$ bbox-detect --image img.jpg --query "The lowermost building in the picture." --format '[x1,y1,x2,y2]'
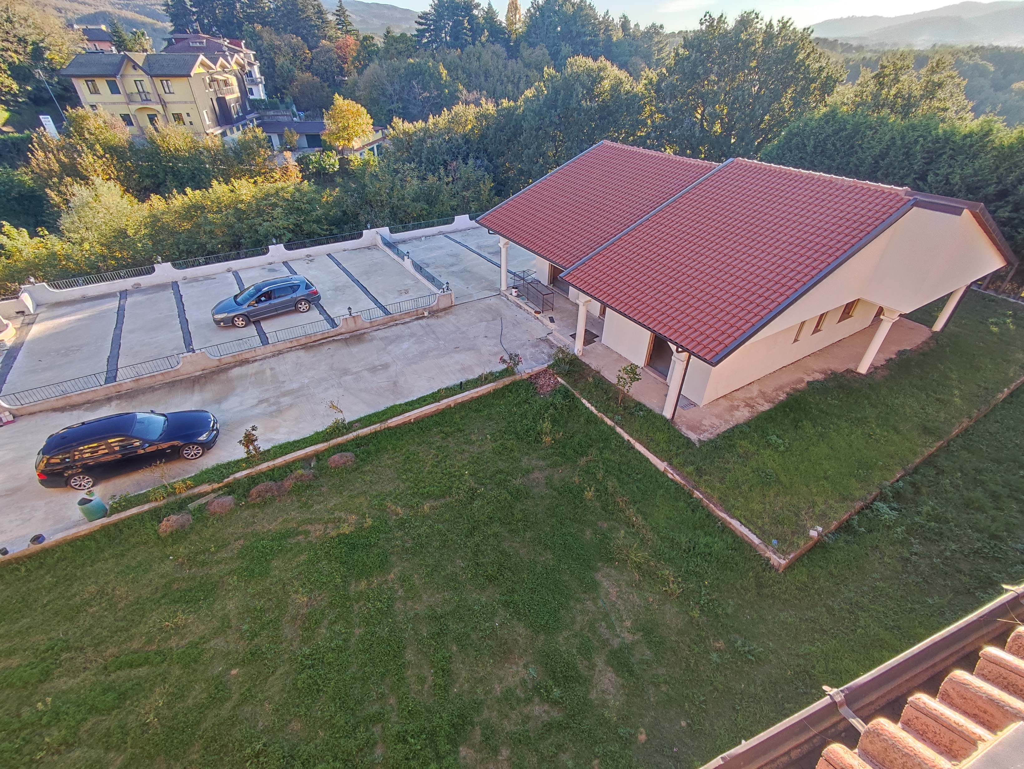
[684,579,1024,769]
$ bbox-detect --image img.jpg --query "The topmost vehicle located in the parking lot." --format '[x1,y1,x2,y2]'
[209,277,327,336]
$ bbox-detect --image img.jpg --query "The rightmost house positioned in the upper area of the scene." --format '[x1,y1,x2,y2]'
[470,136,1024,449]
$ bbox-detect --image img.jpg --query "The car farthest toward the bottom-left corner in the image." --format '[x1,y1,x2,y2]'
[28,407,225,497]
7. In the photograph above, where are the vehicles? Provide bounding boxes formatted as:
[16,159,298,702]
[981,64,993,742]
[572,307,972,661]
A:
[209,277,327,336]
[28,407,225,497]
